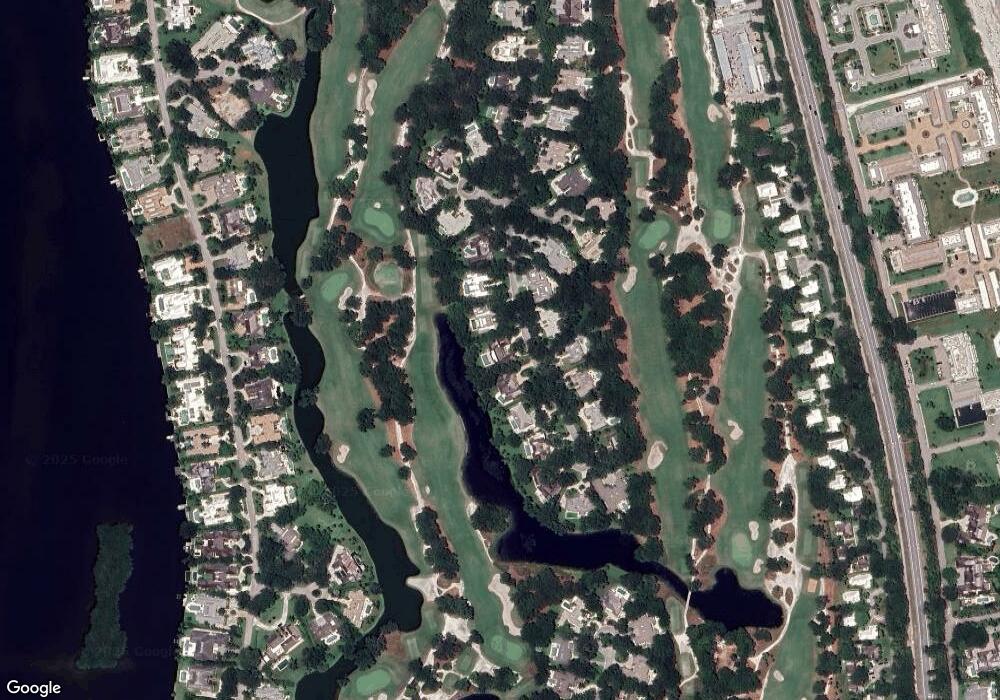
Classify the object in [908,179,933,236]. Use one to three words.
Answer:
building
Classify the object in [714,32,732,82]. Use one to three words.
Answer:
shed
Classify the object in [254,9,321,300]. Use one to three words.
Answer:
pond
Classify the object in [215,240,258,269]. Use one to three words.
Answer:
house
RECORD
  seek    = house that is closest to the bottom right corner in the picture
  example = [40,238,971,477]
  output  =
[964,638,1000,671]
